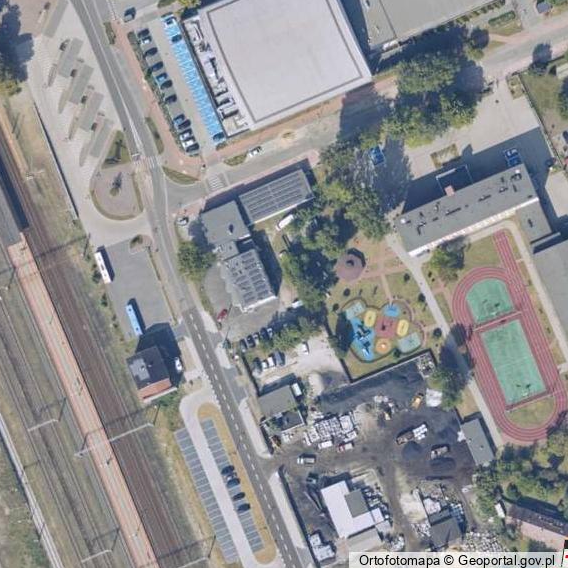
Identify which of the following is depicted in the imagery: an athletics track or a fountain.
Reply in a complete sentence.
This aerial view contains an athletics track.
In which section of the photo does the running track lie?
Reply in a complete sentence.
The running track appears toward the right of the photo.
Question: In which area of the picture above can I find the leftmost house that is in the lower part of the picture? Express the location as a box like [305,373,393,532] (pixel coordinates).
[125,346,177,404]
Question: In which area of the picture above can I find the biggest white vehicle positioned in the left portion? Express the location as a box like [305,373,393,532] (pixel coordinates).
[94,250,112,284]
